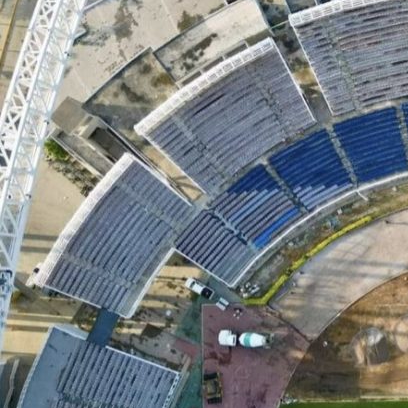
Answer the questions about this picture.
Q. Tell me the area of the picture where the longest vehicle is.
bottom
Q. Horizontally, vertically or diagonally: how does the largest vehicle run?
horizontally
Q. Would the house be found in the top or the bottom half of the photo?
top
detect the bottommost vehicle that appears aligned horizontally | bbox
[218,329,277,349]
